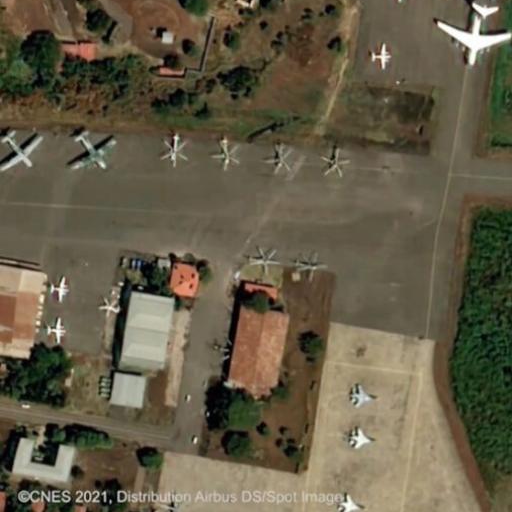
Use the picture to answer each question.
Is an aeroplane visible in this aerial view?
Yes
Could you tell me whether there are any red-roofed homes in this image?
Yes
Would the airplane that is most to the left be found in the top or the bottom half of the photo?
top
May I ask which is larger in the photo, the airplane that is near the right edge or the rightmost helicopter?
the airplane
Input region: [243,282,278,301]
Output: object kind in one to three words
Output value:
house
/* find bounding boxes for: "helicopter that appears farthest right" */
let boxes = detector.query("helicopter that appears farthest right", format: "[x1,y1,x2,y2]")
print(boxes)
[322,144,351,177]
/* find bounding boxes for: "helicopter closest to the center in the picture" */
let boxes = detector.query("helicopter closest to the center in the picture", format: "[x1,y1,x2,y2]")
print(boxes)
[245,247,280,277]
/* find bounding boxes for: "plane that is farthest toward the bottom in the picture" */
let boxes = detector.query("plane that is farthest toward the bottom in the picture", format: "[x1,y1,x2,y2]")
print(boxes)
[338,494,369,512]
